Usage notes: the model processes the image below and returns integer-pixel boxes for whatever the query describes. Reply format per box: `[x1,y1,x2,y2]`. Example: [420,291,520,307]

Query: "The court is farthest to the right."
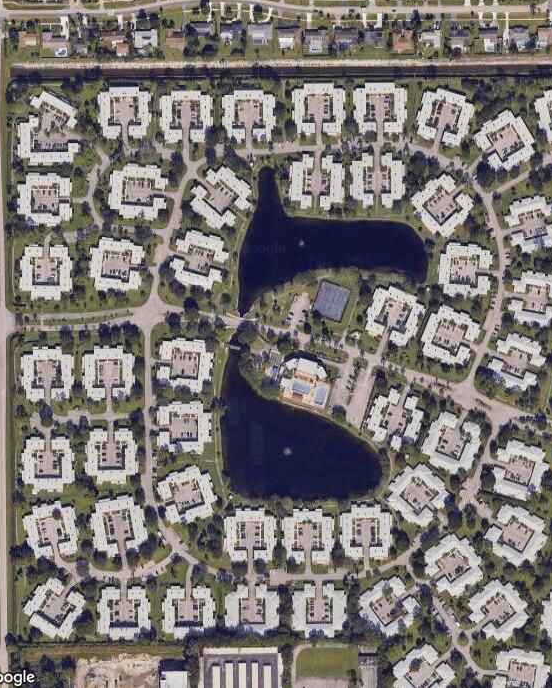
[312,281,350,322]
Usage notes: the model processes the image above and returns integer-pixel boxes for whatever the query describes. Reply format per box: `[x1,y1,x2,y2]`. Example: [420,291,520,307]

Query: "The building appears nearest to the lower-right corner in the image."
[492,648,549,688]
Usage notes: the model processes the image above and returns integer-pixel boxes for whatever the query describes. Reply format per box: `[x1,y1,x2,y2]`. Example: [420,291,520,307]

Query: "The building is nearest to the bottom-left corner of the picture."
[21,578,85,640]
